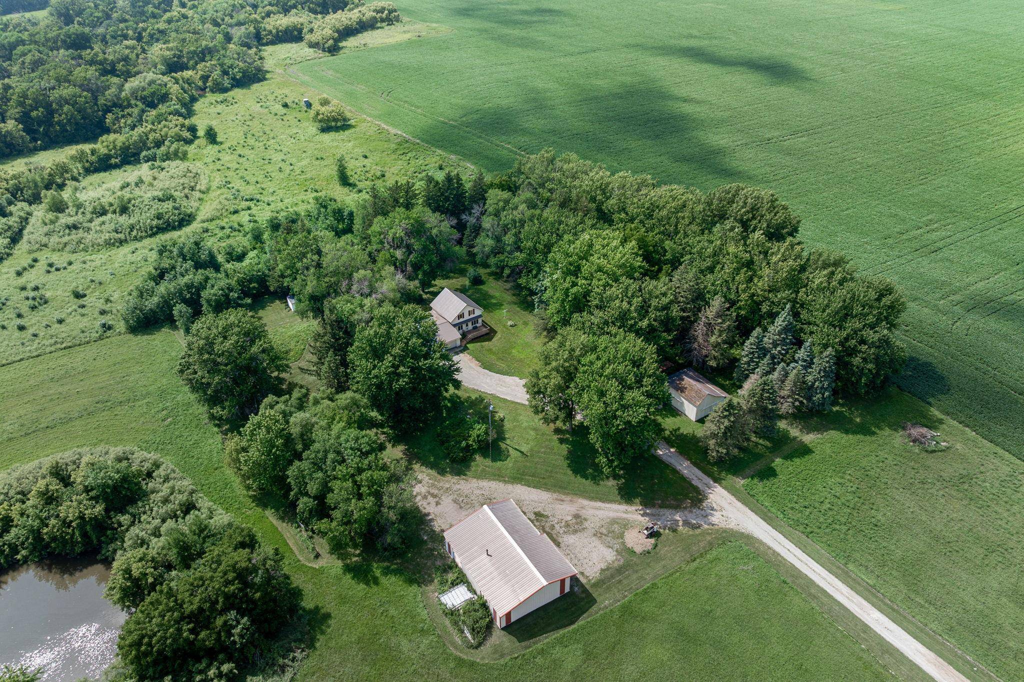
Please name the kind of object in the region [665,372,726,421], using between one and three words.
shed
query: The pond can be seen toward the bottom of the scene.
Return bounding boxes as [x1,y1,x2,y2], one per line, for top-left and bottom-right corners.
[0,545,149,682]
